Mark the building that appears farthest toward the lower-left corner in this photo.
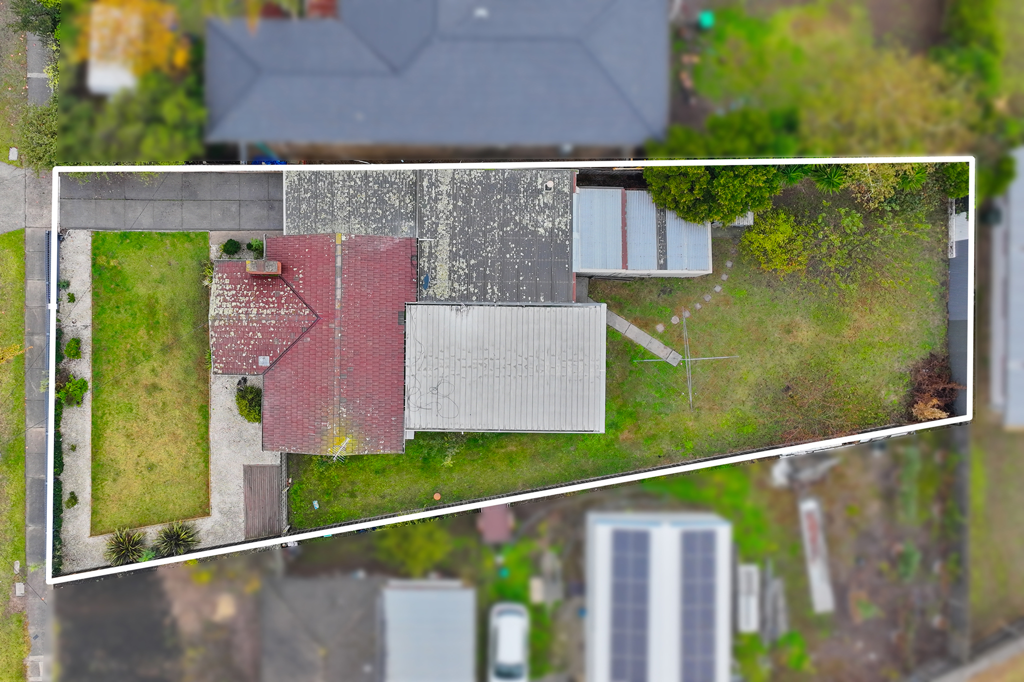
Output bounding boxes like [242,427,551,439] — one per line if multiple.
[258,570,392,682]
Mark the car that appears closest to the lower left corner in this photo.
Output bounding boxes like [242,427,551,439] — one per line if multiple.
[488,608,530,682]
